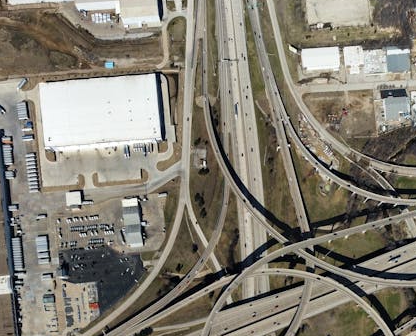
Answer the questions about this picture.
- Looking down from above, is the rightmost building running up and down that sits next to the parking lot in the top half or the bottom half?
bottom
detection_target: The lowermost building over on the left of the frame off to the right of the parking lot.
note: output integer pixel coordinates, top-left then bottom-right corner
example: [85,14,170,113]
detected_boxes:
[122,198,145,248]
